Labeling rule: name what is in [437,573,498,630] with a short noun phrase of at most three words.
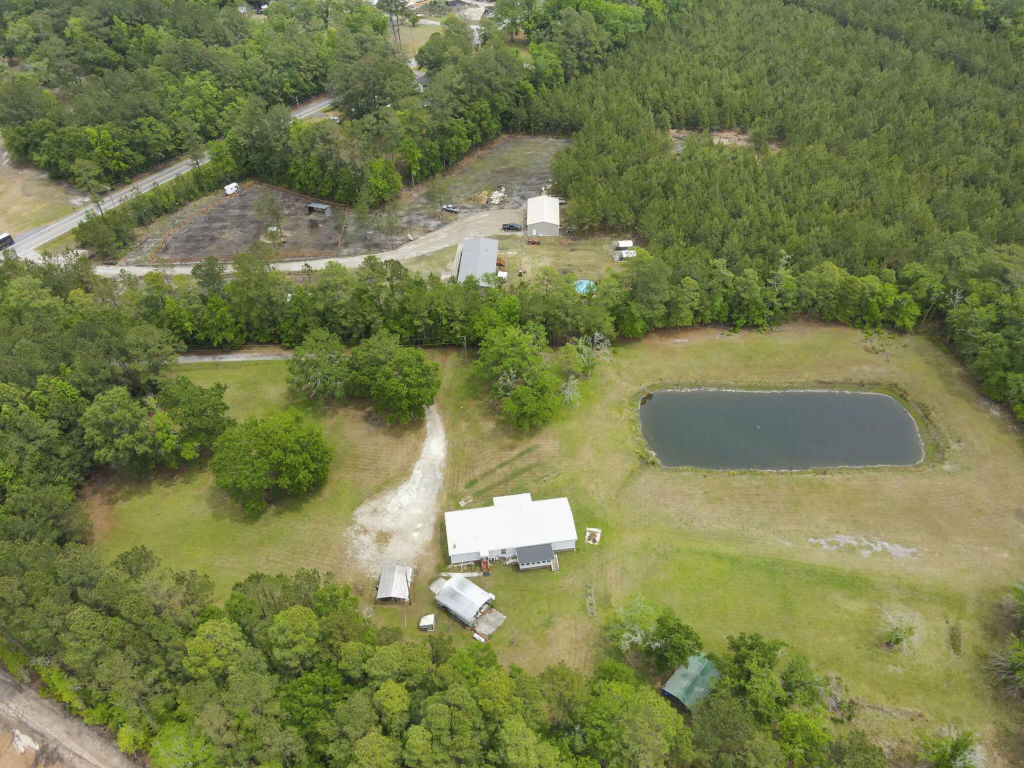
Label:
building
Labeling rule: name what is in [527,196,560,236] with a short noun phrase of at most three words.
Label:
barn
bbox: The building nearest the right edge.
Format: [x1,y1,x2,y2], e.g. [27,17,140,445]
[661,653,721,719]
